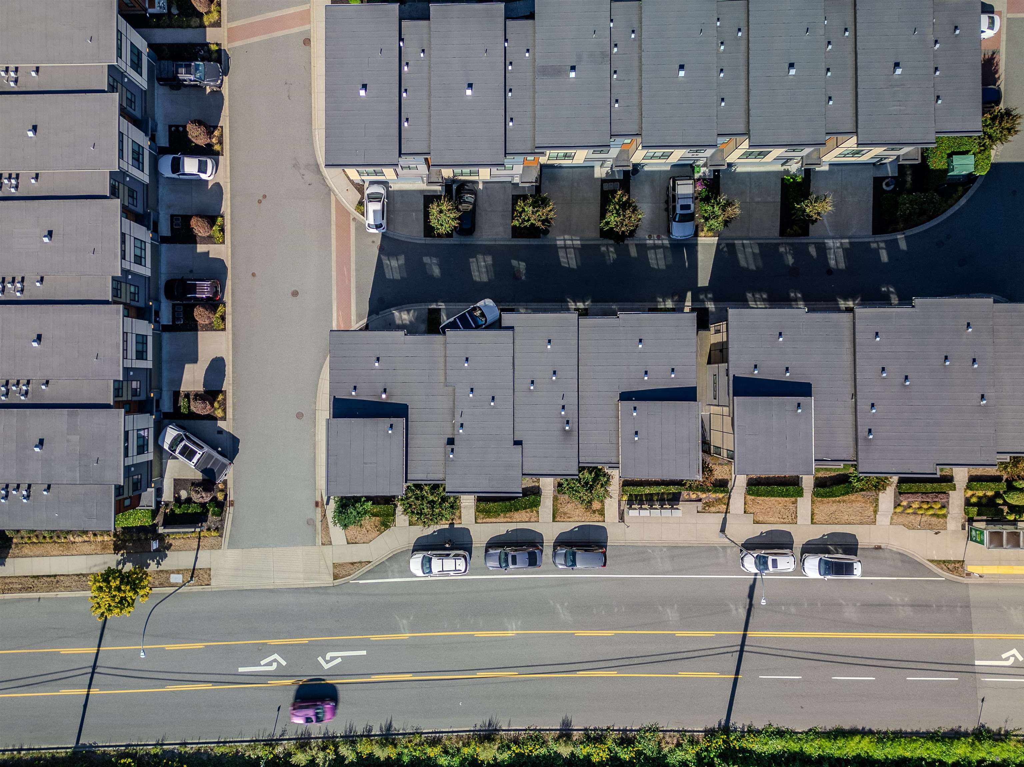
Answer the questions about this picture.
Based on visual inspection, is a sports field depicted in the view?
No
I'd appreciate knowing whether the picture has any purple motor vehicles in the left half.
Yes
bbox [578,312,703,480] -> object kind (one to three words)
house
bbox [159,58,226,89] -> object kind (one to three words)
truck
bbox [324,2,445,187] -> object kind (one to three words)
house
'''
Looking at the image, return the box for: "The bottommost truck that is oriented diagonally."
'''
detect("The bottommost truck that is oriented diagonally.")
[162,426,235,481]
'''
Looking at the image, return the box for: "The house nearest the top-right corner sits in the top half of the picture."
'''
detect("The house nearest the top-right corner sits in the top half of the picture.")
[824,0,983,170]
